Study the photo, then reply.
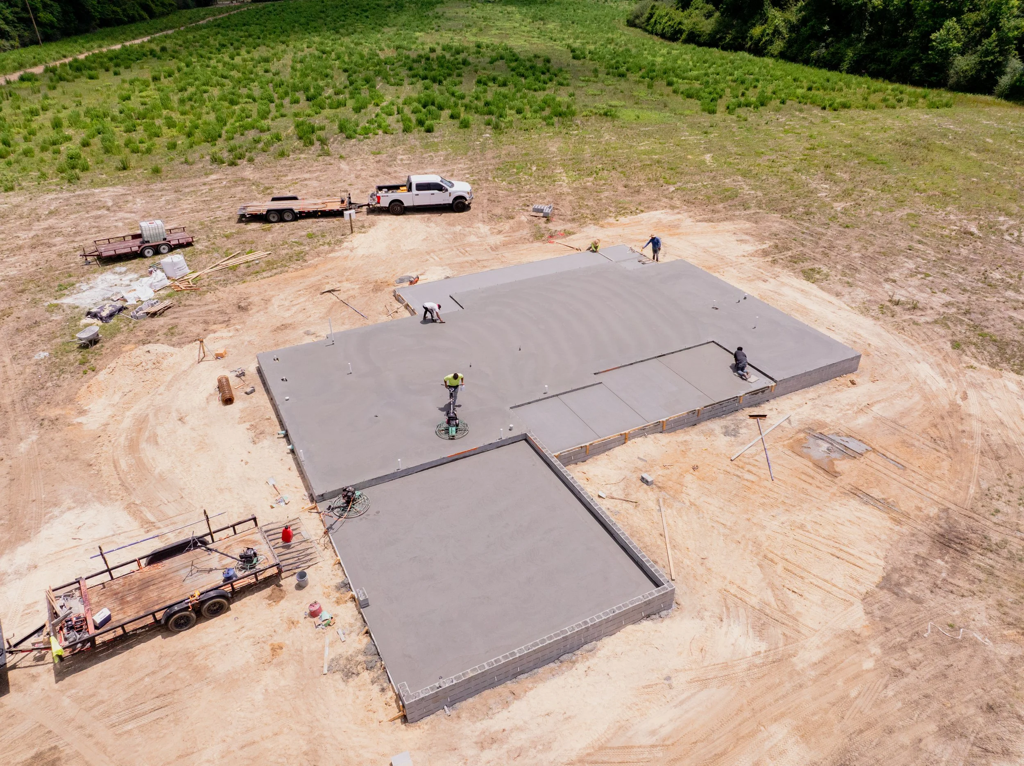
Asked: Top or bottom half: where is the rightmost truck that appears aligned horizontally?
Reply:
top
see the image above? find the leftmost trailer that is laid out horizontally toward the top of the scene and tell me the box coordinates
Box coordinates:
[74,226,194,261]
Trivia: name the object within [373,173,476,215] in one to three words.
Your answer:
truck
